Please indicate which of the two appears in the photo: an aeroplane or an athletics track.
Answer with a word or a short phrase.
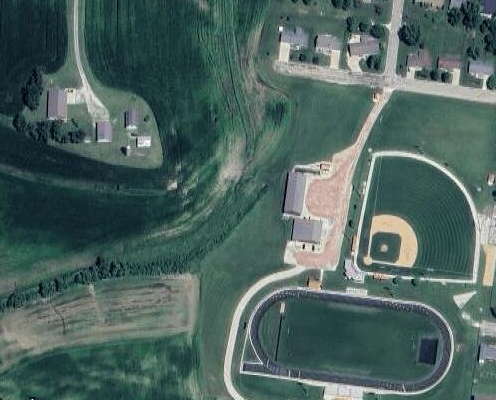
athletics track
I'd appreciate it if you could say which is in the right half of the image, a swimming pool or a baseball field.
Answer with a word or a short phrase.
baseball field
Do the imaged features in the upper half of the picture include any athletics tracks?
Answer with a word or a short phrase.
No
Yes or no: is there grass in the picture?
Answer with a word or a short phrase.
Yes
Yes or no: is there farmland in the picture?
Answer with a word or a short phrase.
Yes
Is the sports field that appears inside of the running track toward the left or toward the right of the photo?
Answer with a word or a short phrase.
right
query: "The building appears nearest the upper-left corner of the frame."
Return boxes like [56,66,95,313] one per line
[48,86,67,118]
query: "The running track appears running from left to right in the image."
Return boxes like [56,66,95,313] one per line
[242,285,454,394]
